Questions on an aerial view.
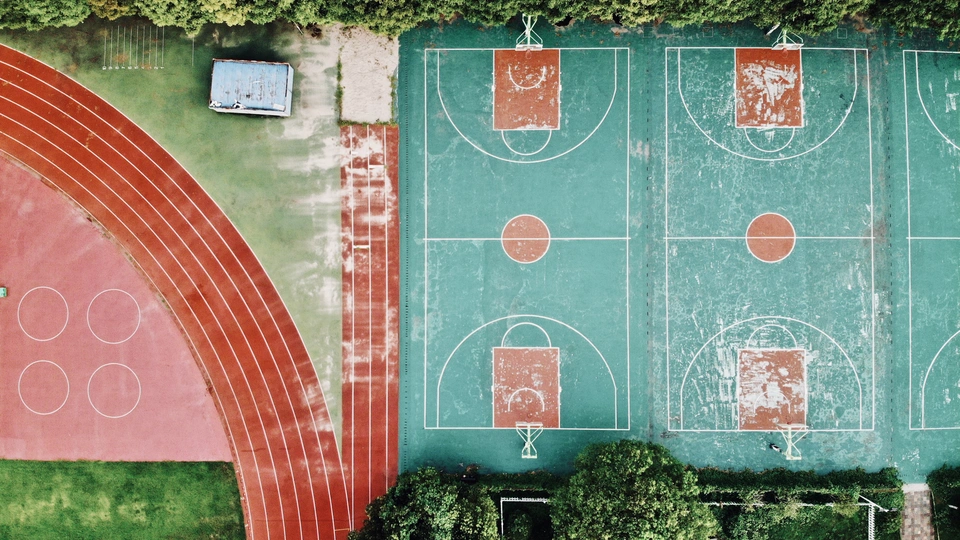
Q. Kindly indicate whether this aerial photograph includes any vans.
No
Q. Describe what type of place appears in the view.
sports ground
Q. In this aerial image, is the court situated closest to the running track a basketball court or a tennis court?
basketball court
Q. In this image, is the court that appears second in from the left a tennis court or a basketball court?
basketball court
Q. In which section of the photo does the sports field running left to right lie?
bottom left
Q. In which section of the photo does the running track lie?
left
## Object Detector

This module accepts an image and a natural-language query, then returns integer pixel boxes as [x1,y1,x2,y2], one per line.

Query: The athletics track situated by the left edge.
[0,42,351,540]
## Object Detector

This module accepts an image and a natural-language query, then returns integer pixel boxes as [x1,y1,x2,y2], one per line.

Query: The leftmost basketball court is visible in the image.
[423,48,632,430]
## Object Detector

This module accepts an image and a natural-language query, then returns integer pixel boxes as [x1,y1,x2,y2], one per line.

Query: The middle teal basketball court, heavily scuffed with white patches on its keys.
[665,47,875,431]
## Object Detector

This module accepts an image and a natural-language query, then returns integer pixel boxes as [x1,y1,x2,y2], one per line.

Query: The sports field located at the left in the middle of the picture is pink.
[0,157,232,461]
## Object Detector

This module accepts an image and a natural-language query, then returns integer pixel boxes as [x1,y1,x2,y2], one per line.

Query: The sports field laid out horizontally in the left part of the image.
[0,459,248,540]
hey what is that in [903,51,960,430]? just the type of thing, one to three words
basketball court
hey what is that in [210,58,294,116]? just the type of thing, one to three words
shed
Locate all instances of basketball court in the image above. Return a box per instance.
[903,51,960,430]
[665,47,875,431]
[423,48,632,430]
